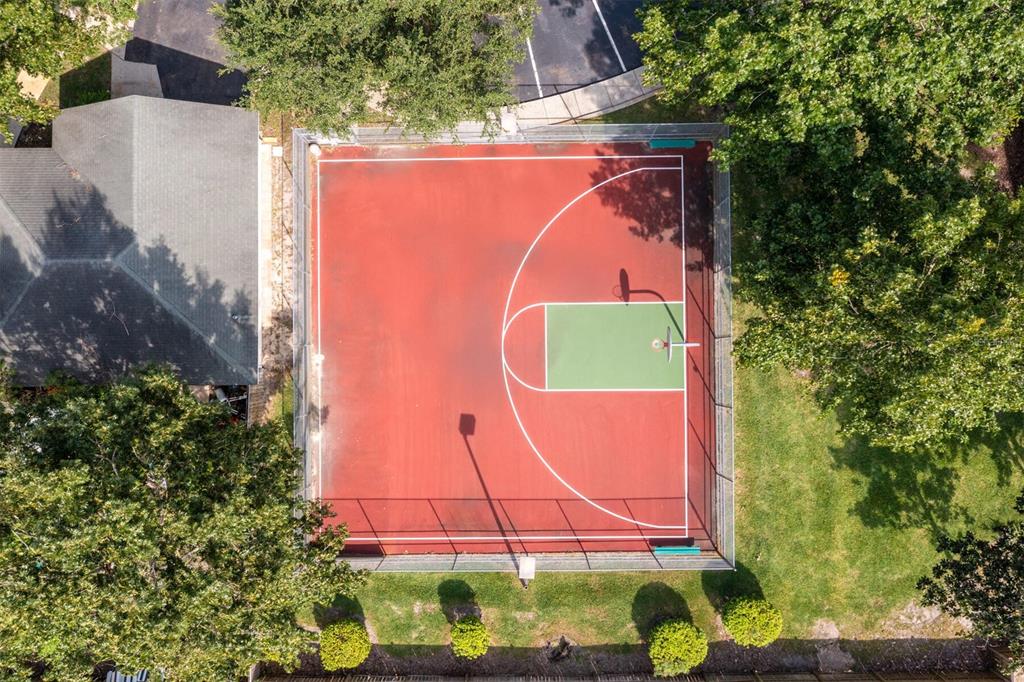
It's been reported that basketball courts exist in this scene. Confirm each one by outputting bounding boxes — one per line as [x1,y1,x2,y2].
[306,136,723,560]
